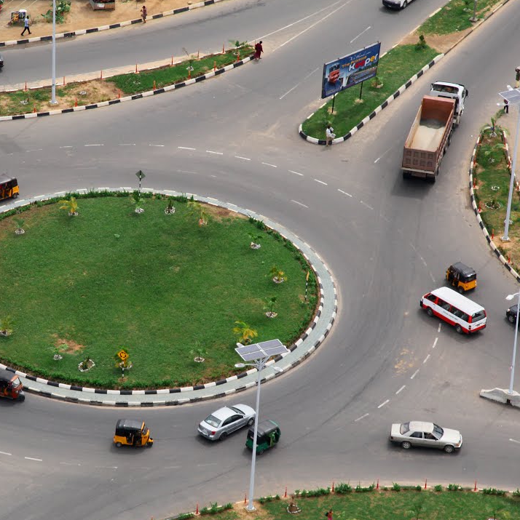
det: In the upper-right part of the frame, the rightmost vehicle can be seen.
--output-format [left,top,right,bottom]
[402,86,462,176]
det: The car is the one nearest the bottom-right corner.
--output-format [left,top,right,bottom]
[390,420,467,453]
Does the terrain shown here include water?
No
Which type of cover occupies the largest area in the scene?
paved ground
